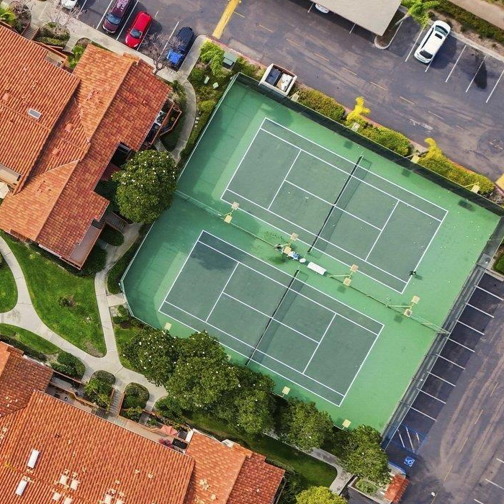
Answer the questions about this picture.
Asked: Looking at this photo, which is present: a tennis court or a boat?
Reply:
tennis court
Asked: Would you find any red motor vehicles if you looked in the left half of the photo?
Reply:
Yes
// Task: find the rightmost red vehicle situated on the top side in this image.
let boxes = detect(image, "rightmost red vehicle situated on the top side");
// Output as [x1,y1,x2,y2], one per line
[123,10,154,51]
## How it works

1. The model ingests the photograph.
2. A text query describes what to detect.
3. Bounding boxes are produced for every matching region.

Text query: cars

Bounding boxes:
[165,24,199,72]
[100,0,134,36]
[413,21,449,66]
[58,0,79,12]
[123,10,154,51]
[312,4,328,17]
